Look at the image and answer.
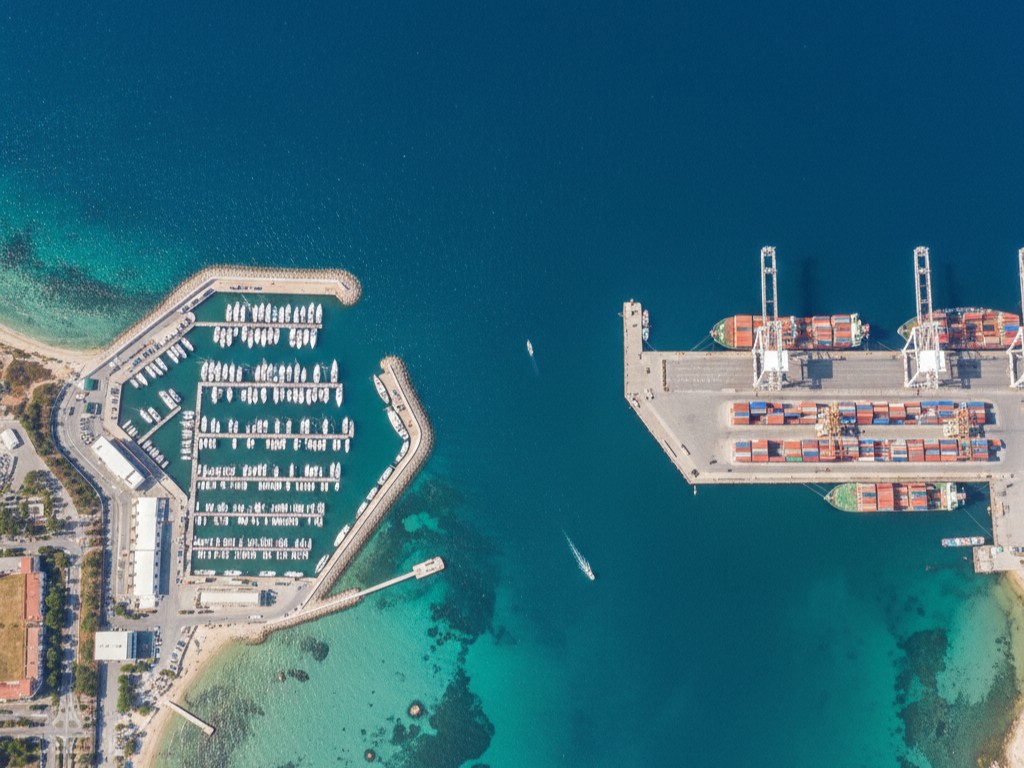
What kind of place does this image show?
port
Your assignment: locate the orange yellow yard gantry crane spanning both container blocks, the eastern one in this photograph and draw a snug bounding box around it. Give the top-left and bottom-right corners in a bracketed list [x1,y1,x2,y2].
[942,400,973,469]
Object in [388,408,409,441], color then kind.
white boat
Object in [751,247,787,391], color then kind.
white container crane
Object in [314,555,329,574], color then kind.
white boat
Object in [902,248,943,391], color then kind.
white container crane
